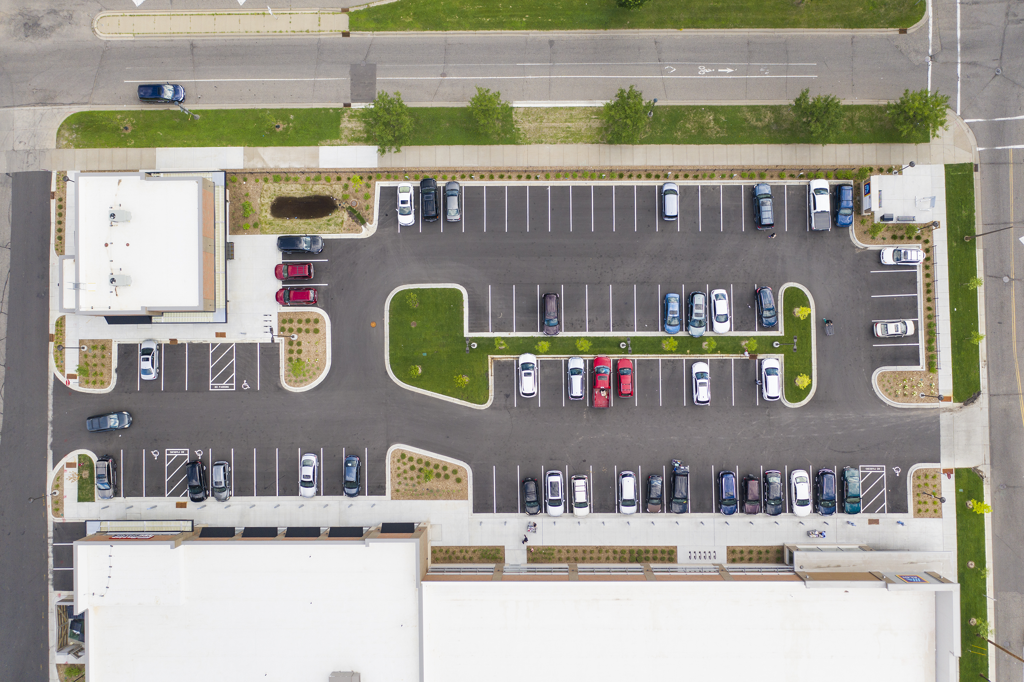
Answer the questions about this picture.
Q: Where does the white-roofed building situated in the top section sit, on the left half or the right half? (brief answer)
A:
left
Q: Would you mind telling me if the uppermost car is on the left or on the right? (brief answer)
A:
left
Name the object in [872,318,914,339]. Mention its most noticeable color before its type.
white car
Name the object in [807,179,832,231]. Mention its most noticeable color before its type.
white truck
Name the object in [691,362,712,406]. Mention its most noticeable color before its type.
white car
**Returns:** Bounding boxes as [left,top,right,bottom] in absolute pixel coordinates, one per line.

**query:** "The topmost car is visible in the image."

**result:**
[137,83,187,105]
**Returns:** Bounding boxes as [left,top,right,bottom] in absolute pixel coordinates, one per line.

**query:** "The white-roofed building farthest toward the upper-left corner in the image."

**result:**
[59,171,228,324]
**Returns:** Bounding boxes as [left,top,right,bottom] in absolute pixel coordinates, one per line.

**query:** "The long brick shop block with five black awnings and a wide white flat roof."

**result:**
[77,520,432,682]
